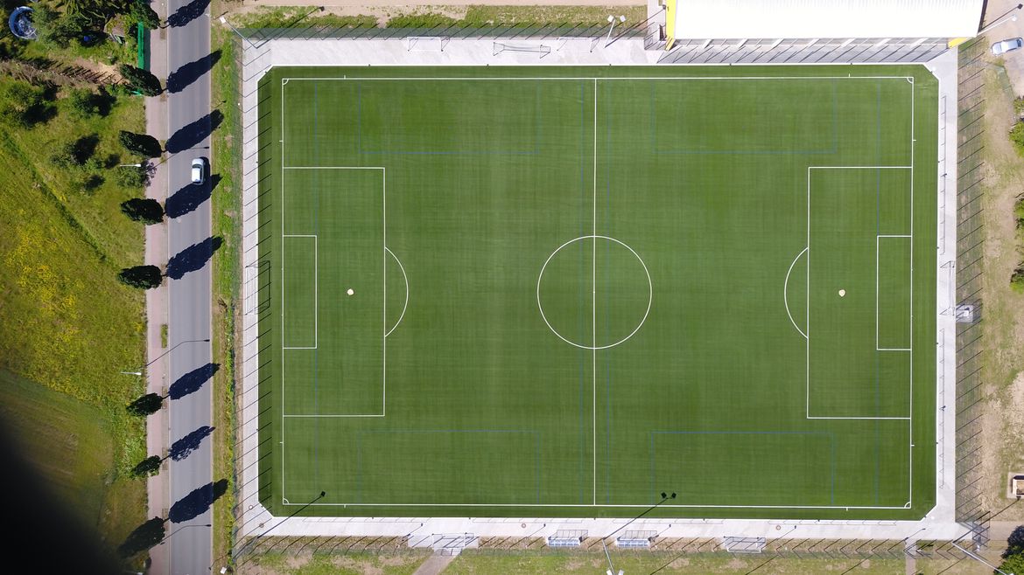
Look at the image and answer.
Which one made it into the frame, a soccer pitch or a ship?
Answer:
soccer pitch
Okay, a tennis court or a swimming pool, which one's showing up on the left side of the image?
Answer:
swimming pool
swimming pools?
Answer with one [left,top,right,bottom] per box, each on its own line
[10,9,39,39]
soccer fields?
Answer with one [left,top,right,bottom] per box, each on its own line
[257,62,940,522]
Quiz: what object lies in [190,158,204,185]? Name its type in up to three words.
car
